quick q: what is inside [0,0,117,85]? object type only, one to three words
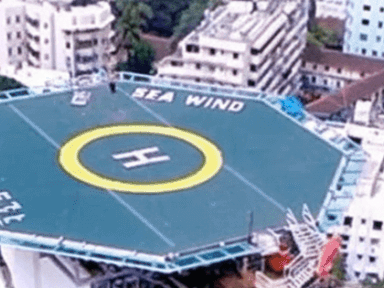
building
